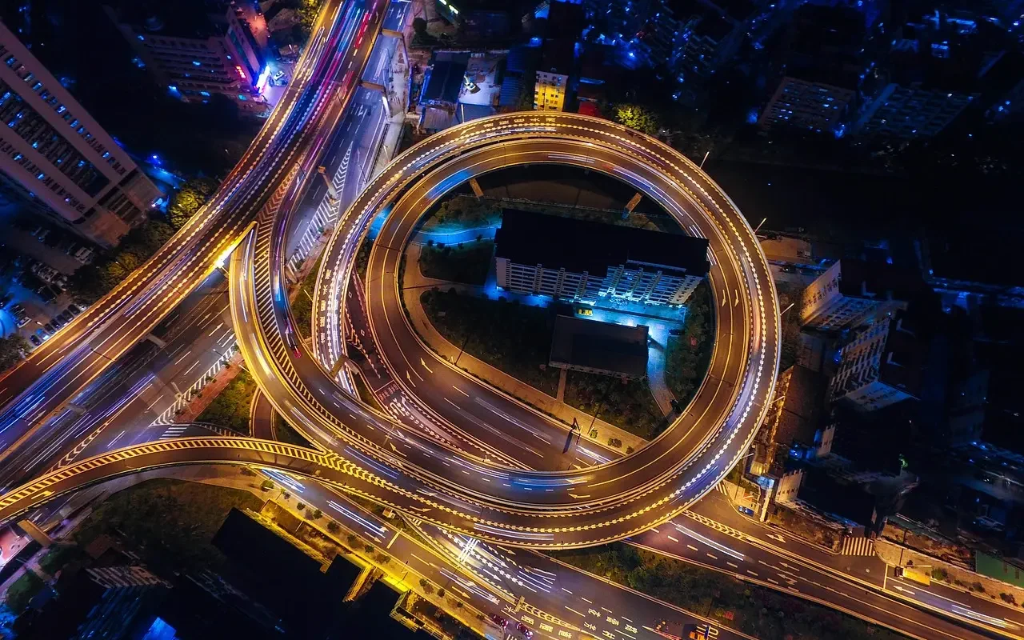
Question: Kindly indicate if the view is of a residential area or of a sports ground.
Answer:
residential area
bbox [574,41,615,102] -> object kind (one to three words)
house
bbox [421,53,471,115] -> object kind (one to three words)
shed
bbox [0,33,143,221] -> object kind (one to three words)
building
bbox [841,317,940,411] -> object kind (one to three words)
building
